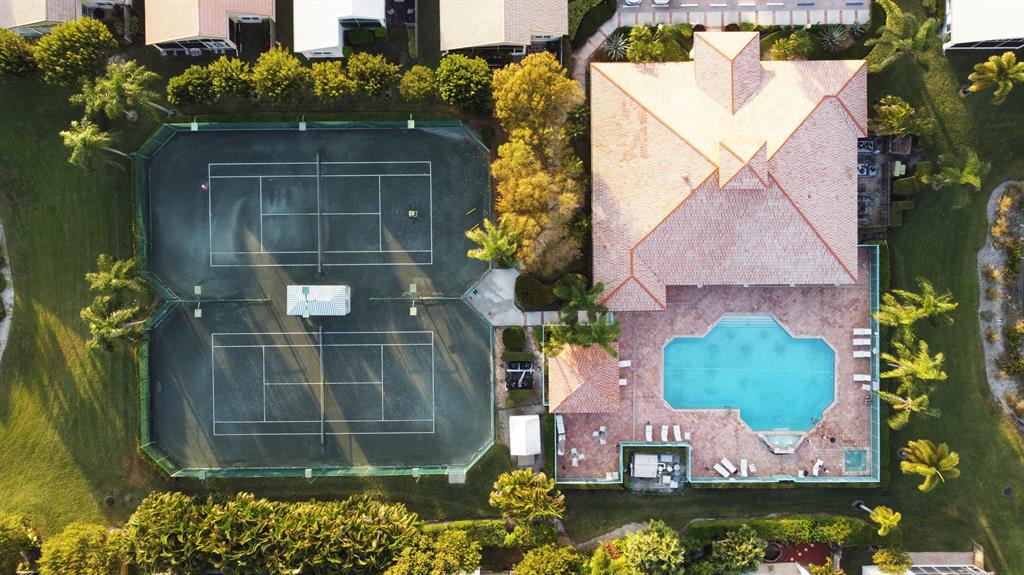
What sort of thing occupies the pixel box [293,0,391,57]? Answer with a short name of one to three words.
house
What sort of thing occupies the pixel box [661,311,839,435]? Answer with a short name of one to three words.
swimming pool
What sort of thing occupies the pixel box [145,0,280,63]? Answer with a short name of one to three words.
house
